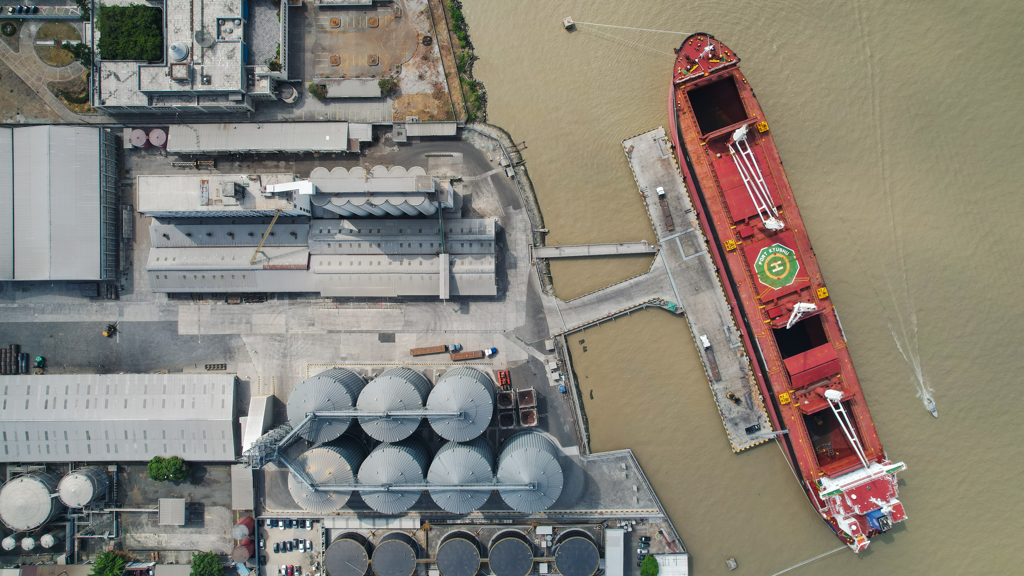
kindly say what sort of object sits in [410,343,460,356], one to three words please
vehicle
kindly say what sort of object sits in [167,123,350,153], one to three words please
shed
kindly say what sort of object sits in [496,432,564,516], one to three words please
silo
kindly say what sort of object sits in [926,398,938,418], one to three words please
boat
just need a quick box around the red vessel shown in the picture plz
[668,31,909,553]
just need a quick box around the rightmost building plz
[651,548,688,576]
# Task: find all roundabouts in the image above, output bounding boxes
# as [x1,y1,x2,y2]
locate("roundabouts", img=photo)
[34,20,80,66]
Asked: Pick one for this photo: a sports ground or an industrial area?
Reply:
industrial area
